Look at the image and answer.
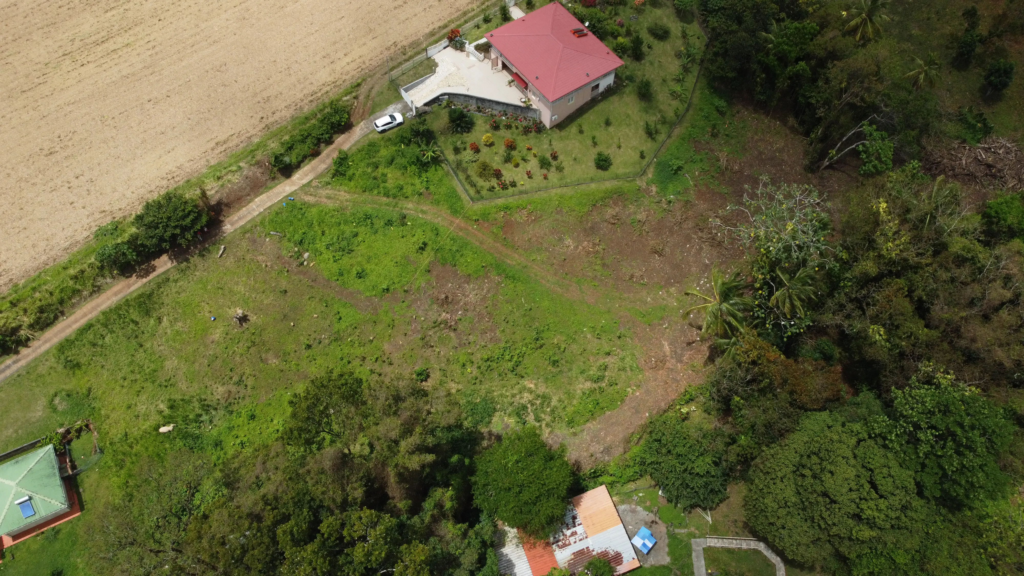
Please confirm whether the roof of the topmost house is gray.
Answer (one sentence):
No, from above the roof of the topmost house looks pink.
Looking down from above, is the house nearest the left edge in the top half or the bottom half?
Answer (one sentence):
Seen from above, the house nearest the left edge lies in the bottom half of the view.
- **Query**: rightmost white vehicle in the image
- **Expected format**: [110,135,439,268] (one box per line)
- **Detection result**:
[372,113,403,131]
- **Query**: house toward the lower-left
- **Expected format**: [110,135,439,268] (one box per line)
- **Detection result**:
[0,444,71,539]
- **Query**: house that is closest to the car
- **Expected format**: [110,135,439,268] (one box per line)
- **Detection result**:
[483,2,627,129]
